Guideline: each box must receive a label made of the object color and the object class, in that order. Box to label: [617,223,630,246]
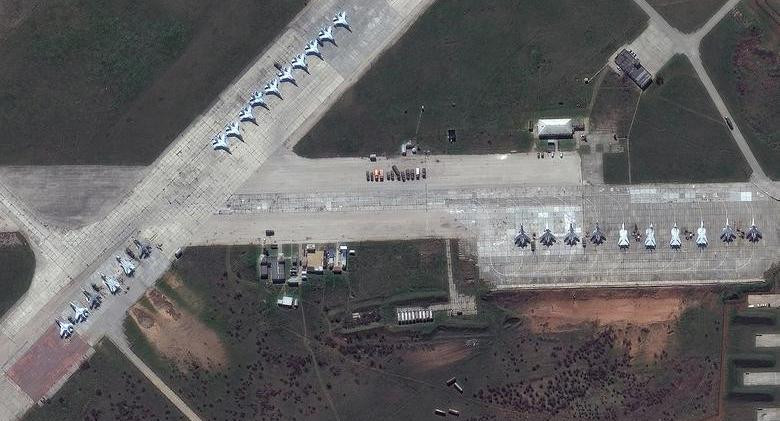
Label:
white airplane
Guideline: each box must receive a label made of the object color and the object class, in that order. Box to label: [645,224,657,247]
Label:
white airplane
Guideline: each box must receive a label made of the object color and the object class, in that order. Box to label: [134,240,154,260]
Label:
gray airplane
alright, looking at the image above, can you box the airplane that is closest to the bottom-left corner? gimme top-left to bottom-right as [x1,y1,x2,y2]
[56,321,76,340]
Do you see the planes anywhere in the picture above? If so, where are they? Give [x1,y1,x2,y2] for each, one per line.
[590,223,606,246]
[696,221,708,244]
[303,37,324,57]
[134,240,154,260]
[318,24,336,43]
[277,64,296,82]
[514,224,530,247]
[117,257,136,276]
[564,225,579,247]
[71,304,90,323]
[331,10,350,28]
[617,223,630,246]
[238,102,257,122]
[211,131,231,150]
[101,275,120,293]
[670,225,682,247]
[224,119,244,138]
[540,225,555,247]
[56,321,76,340]
[721,219,736,241]
[289,51,309,72]
[645,224,657,247]
[263,76,281,97]
[248,87,268,105]
[746,218,762,241]
[82,289,103,309]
